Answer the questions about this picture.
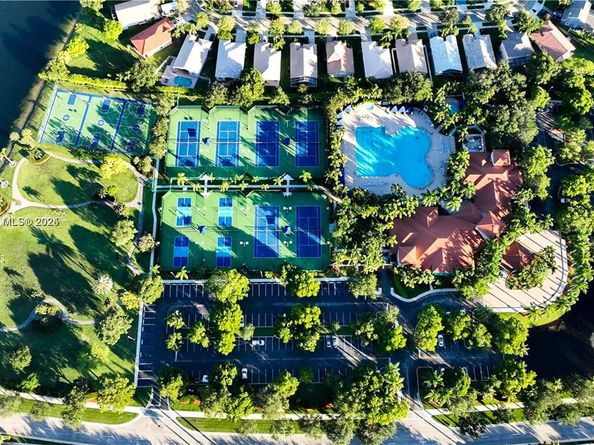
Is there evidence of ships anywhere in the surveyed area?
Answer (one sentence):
No, no ship can be seen from above.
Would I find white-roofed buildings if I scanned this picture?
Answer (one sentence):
Yes, this view includes a white-roofed building.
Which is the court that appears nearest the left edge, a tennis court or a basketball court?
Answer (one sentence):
The court that appears nearest the left edge is a basketball court.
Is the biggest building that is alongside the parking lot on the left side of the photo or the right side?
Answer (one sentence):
The biggest building that is alongside the parking lot appears in the right half of the scene.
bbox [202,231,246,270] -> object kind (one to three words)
sports court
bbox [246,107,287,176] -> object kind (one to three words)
tennis court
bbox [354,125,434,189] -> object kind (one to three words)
swimming pool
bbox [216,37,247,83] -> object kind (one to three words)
house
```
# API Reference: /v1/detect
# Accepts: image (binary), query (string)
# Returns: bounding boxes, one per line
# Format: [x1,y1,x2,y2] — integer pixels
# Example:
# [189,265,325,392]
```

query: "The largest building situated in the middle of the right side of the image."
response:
[391,150,525,273]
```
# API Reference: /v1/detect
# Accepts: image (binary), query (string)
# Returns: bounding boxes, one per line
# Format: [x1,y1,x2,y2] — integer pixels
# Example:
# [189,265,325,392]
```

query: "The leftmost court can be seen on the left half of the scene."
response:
[40,90,90,144]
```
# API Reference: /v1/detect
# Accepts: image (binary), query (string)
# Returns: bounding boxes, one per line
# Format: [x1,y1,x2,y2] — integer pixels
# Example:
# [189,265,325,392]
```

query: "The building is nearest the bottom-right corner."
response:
[501,240,533,270]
